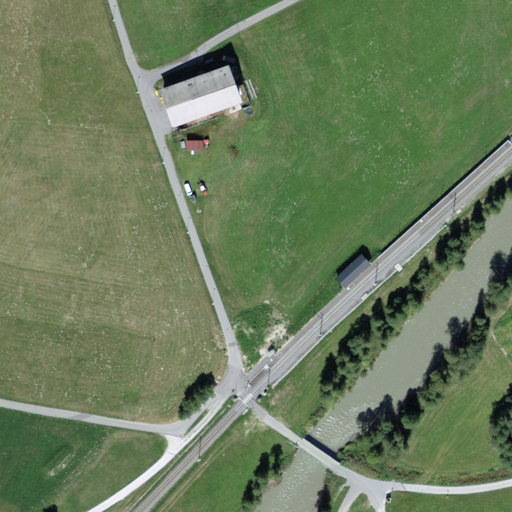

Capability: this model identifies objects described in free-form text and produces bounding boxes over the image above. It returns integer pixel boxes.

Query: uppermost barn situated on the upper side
[160,66,242,127]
